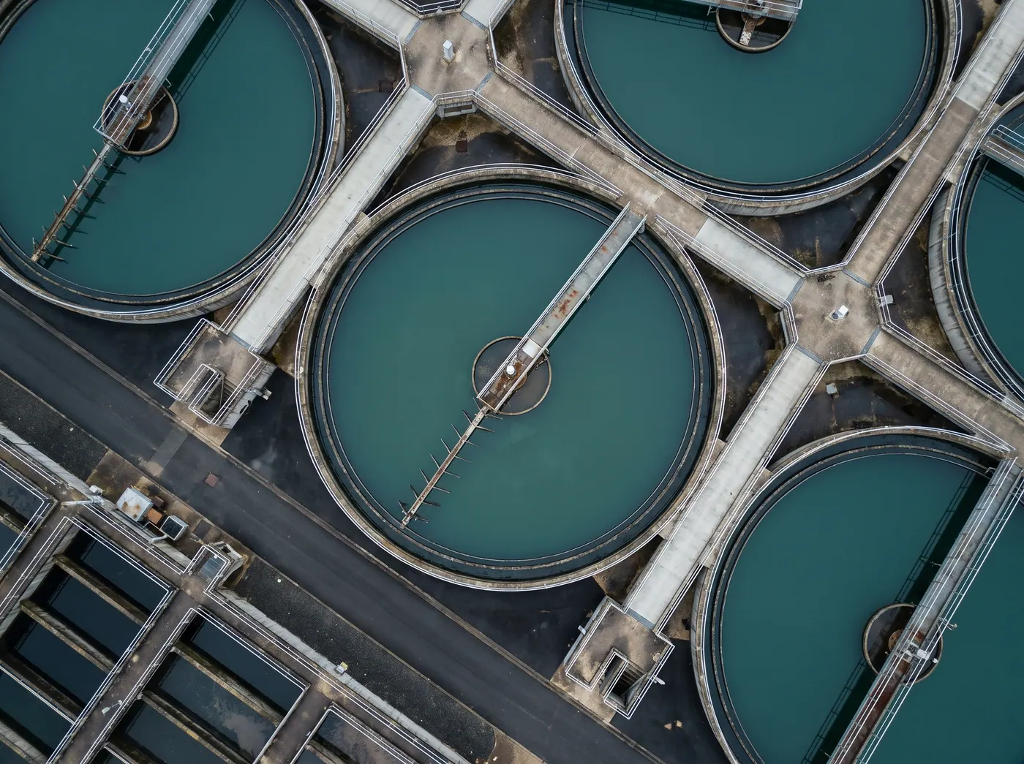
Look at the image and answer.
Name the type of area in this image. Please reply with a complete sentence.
It's an industrial area.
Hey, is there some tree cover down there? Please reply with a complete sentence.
No, tree cover can't be seen anywhere here.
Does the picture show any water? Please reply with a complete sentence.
Yes, the picture does contain water.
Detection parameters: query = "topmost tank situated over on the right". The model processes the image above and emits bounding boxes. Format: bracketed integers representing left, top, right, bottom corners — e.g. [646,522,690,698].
[559,0,970,209]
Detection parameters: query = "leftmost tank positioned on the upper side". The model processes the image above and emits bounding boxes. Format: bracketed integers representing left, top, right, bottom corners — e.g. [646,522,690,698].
[0,0,345,321]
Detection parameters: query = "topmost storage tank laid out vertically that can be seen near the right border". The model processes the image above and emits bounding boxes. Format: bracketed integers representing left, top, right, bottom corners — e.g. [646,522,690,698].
[929,89,1024,406]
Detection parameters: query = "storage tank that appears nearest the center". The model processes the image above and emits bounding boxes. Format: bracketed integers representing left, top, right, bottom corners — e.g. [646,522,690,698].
[297,163,724,588]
